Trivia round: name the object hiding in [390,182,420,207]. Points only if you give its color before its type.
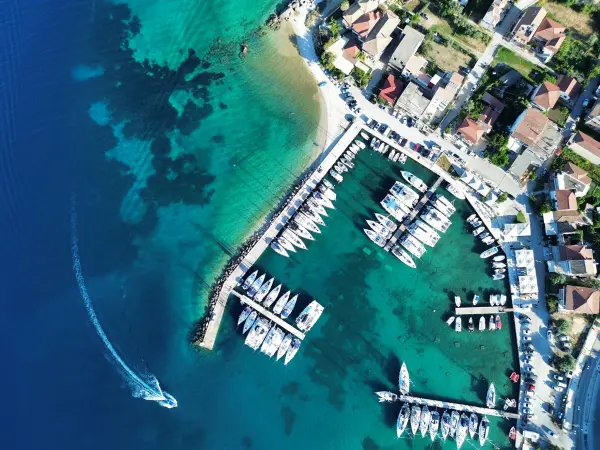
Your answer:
white boat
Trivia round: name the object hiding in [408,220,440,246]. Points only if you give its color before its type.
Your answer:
white boat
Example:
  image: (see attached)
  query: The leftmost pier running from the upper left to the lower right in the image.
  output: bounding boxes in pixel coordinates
[231,288,305,339]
